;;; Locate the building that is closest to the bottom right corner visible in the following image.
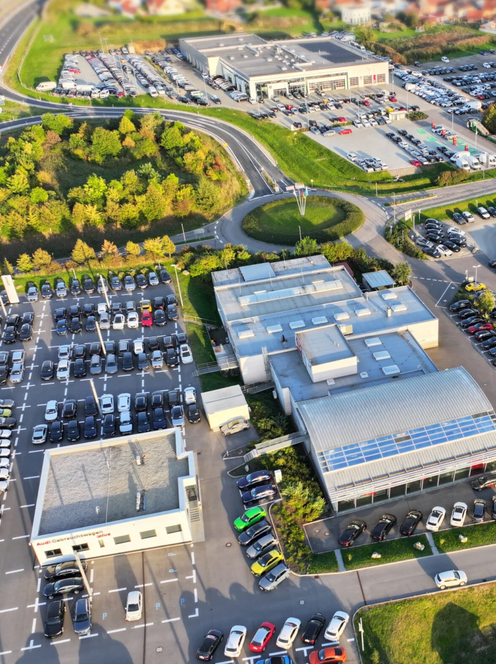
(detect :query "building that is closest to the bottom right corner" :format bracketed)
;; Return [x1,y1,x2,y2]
[294,364,496,514]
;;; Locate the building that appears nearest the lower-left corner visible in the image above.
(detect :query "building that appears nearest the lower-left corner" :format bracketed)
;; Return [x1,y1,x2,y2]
[31,428,201,568]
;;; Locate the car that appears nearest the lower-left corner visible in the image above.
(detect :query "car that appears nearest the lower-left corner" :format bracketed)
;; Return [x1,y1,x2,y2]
[42,601,66,640]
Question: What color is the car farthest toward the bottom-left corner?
black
